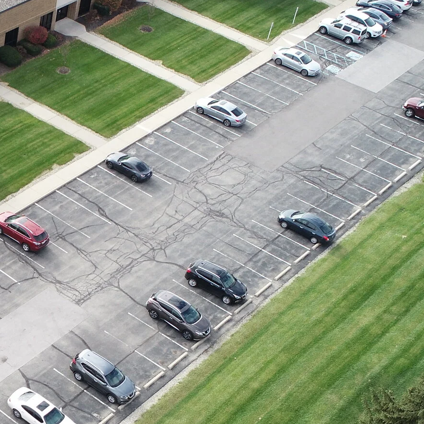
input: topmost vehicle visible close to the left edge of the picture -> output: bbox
[0,213,52,254]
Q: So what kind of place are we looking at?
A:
parking lot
